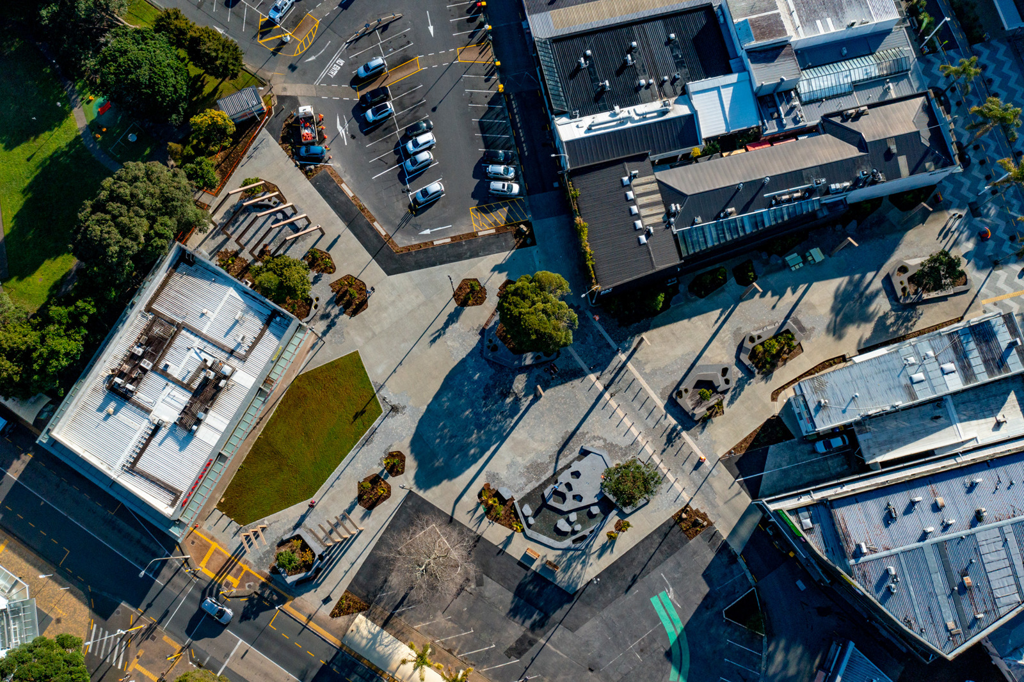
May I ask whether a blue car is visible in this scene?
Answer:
Yes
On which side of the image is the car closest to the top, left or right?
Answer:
left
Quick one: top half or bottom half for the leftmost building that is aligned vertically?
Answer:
bottom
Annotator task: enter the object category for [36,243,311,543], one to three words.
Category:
building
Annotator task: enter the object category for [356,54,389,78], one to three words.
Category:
car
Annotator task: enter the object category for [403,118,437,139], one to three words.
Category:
car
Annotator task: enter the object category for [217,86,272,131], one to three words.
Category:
shed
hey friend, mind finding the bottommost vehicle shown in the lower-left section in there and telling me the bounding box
[198,594,237,628]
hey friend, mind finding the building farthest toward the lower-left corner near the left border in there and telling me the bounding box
[0,566,40,653]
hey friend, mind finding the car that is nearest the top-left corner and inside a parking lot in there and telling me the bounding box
[269,0,296,23]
